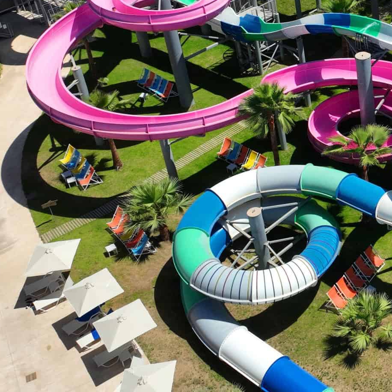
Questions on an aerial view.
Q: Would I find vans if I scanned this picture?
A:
No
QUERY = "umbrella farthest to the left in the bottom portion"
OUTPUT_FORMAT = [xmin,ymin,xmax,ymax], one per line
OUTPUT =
[27,239,81,296]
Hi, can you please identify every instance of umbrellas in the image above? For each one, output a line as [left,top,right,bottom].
[62,269,125,319]
[93,300,157,366]
[122,358,174,392]
[27,239,81,296]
